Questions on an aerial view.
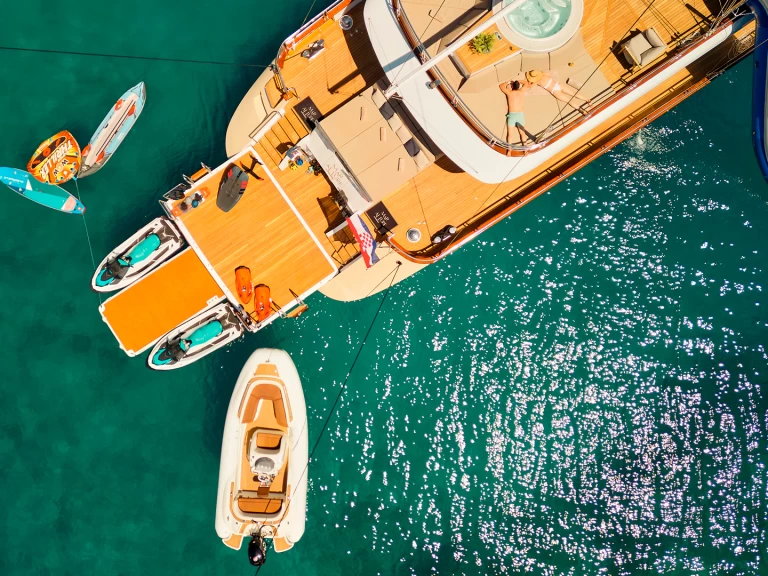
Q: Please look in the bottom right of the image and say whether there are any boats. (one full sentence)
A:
No, there's no boat to be seen in the bottom right of the image.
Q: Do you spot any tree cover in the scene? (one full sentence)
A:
No, there's no tree cover in this view.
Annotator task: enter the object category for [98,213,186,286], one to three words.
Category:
boat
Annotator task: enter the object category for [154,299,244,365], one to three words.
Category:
boat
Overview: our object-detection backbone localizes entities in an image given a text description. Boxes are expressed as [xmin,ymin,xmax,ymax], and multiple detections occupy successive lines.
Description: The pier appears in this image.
[100,248,222,356]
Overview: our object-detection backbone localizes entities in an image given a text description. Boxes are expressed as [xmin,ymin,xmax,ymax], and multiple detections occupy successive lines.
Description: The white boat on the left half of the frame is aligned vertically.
[212,349,308,567]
